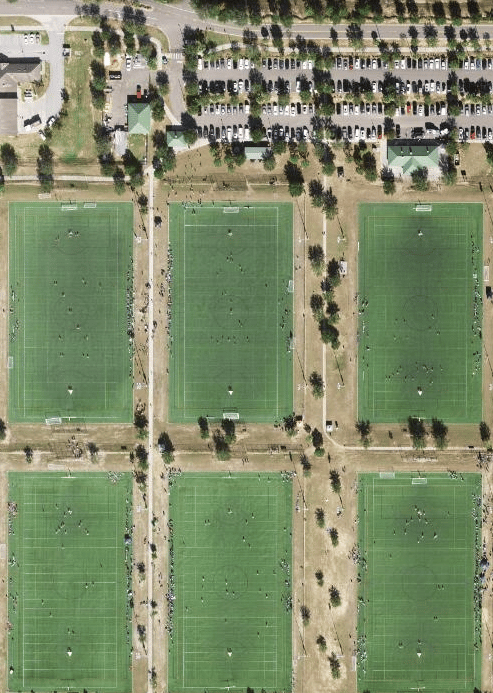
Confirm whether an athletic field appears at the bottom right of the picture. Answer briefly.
Yes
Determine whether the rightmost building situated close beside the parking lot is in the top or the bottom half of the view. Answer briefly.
top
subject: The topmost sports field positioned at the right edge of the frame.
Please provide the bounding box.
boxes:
[358,202,484,424]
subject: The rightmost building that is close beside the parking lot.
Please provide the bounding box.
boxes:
[387,146,440,175]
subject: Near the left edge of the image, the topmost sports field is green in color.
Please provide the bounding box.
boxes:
[8,201,133,423]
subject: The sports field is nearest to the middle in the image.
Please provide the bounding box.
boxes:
[169,201,294,423]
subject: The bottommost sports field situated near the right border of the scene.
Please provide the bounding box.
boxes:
[358,471,483,693]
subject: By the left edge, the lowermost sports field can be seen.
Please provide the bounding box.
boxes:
[8,471,133,693]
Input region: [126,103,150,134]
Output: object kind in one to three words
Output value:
building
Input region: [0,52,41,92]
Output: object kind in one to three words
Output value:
building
